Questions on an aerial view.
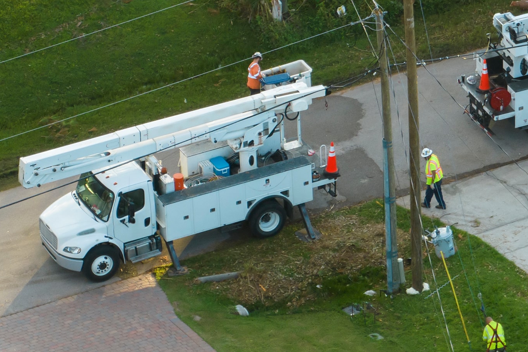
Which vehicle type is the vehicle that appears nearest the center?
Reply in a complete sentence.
The vehicle that appears nearest the center is a truck.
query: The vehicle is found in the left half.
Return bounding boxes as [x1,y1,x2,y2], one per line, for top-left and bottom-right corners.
[13,69,345,279]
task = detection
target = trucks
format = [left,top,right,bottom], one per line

[13,69,345,279]
[448,9,528,140]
